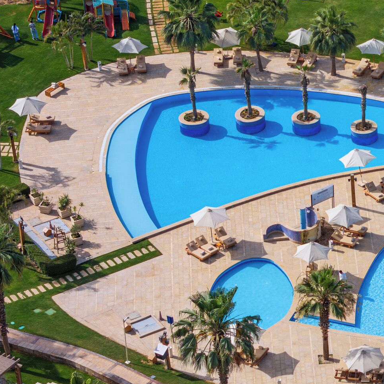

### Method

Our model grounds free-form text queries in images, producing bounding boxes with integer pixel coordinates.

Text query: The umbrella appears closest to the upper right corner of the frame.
[355,36,384,70]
